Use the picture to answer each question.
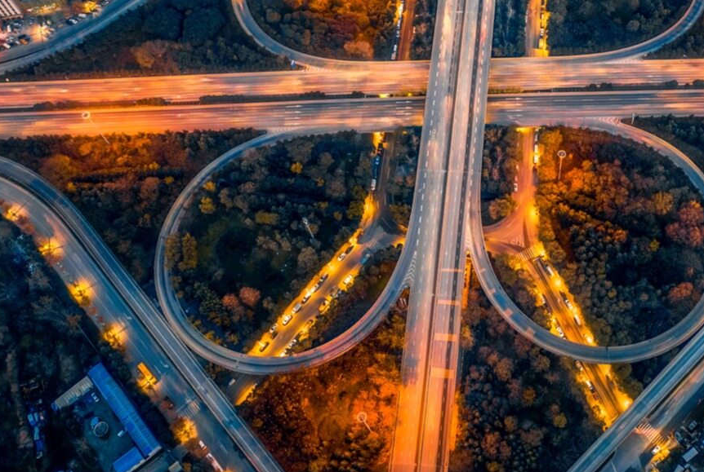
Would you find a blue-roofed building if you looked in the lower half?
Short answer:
Yes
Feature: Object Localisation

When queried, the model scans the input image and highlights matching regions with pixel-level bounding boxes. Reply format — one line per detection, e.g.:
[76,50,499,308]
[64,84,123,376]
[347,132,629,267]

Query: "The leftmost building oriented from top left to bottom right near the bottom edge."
[88,365,163,458]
